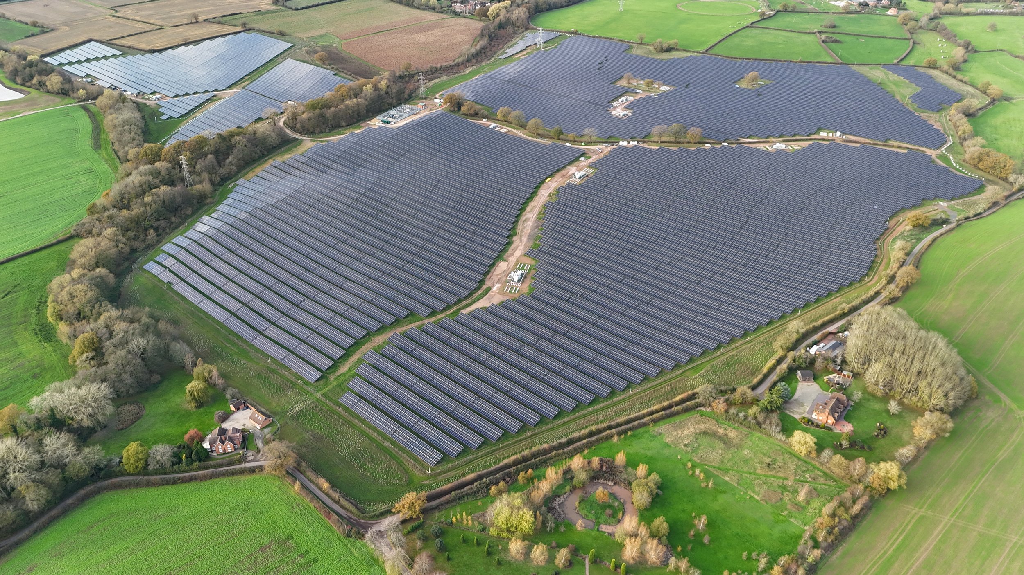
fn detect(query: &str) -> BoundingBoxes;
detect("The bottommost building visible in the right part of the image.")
[808,390,855,425]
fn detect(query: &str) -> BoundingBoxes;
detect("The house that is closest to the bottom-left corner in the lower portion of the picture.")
[200,421,245,455]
